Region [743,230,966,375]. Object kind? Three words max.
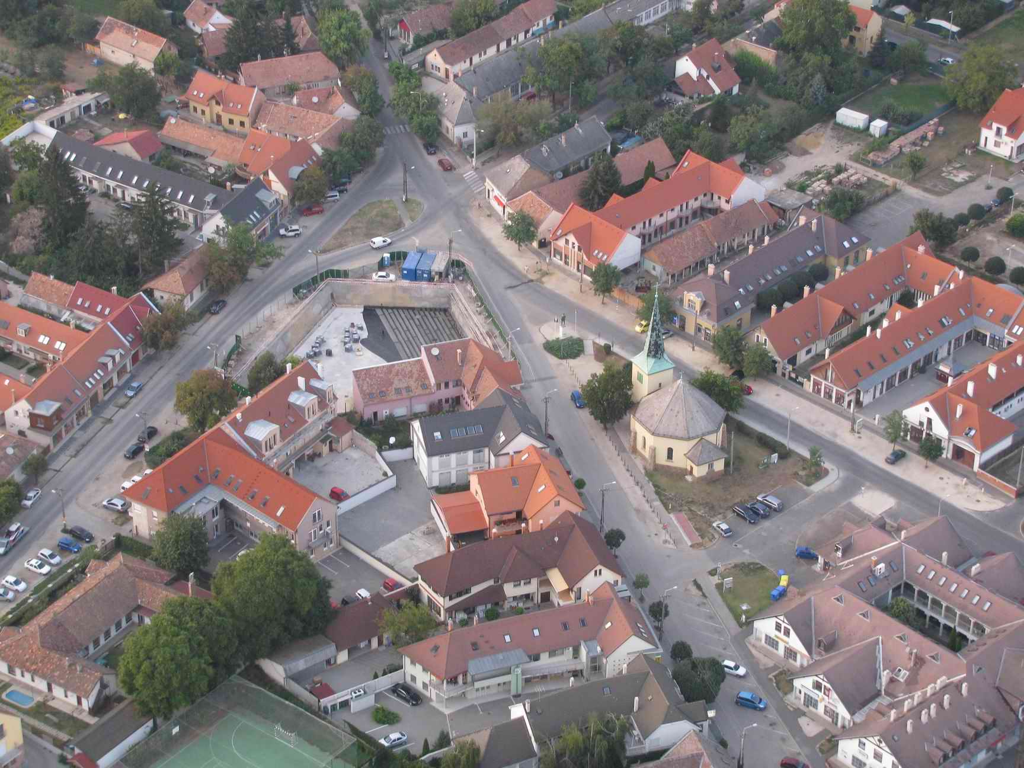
building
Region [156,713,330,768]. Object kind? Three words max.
sports court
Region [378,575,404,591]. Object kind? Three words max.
car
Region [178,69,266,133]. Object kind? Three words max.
house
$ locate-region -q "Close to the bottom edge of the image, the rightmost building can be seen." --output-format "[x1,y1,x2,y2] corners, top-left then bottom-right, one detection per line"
[755,515,1024,768]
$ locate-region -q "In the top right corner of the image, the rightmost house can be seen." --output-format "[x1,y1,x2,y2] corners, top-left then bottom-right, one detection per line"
[980,86,1024,159]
